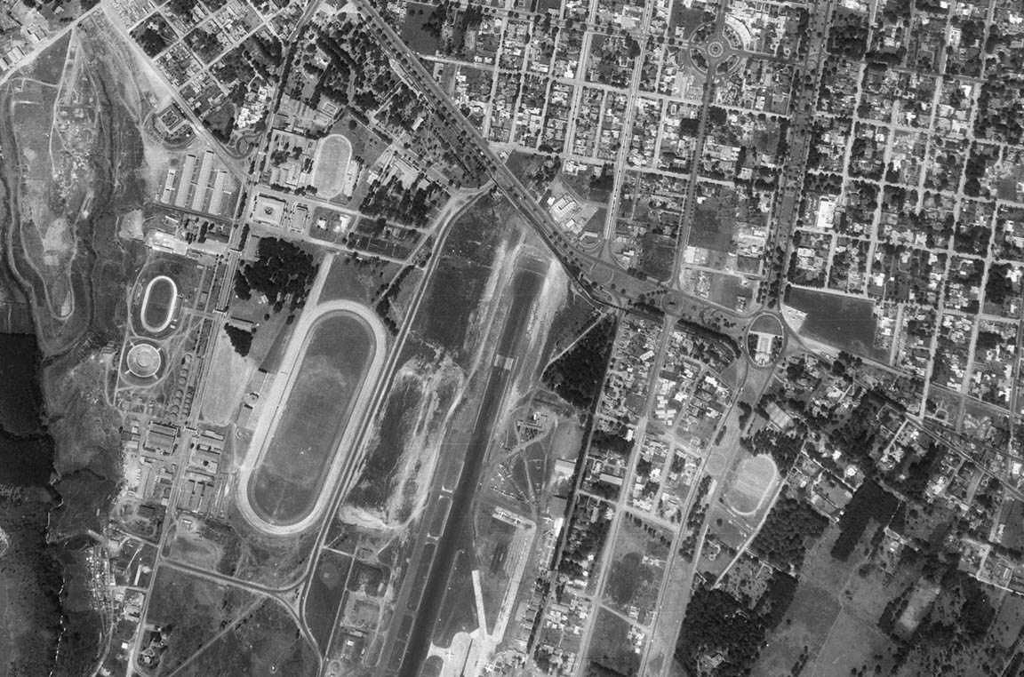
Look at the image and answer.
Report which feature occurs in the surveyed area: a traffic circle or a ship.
traffic circle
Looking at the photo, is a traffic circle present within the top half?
Yes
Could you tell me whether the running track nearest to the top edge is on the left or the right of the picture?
left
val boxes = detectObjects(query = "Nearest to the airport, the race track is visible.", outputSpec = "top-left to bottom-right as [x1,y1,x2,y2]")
[239,254,387,535]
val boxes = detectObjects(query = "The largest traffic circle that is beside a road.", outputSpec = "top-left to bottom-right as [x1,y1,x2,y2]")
[689,23,743,75]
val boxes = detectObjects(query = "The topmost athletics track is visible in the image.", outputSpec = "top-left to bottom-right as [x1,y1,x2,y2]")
[312,135,354,198]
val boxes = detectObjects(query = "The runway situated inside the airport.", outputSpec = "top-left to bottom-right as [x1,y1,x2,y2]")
[400,264,540,677]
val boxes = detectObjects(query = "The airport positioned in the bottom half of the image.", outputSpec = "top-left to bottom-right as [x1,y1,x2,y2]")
[375,264,544,677]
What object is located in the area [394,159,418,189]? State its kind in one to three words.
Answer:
building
